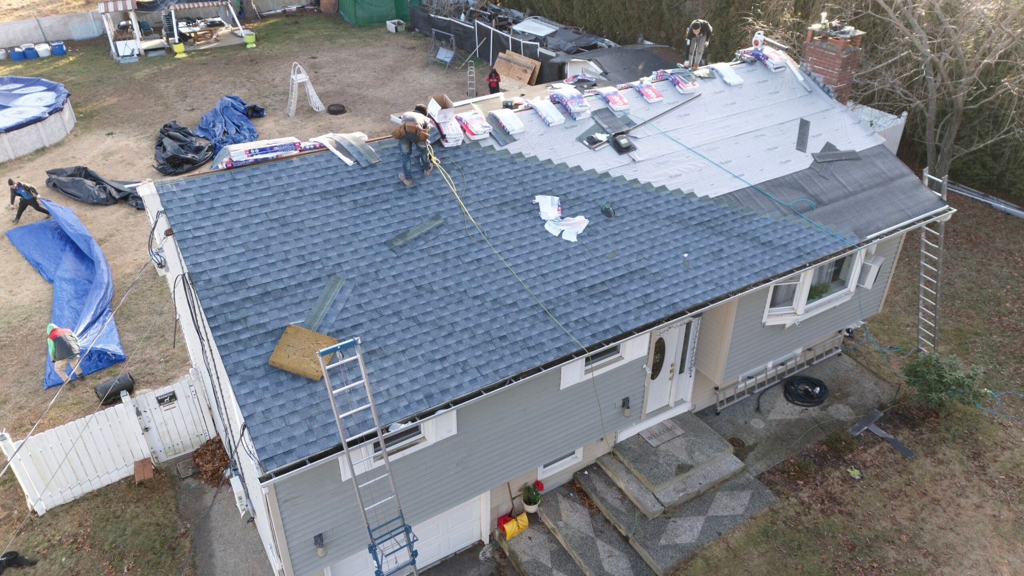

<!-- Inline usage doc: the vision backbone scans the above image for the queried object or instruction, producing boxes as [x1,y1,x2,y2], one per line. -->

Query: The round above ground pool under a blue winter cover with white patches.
[0,73,79,165]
